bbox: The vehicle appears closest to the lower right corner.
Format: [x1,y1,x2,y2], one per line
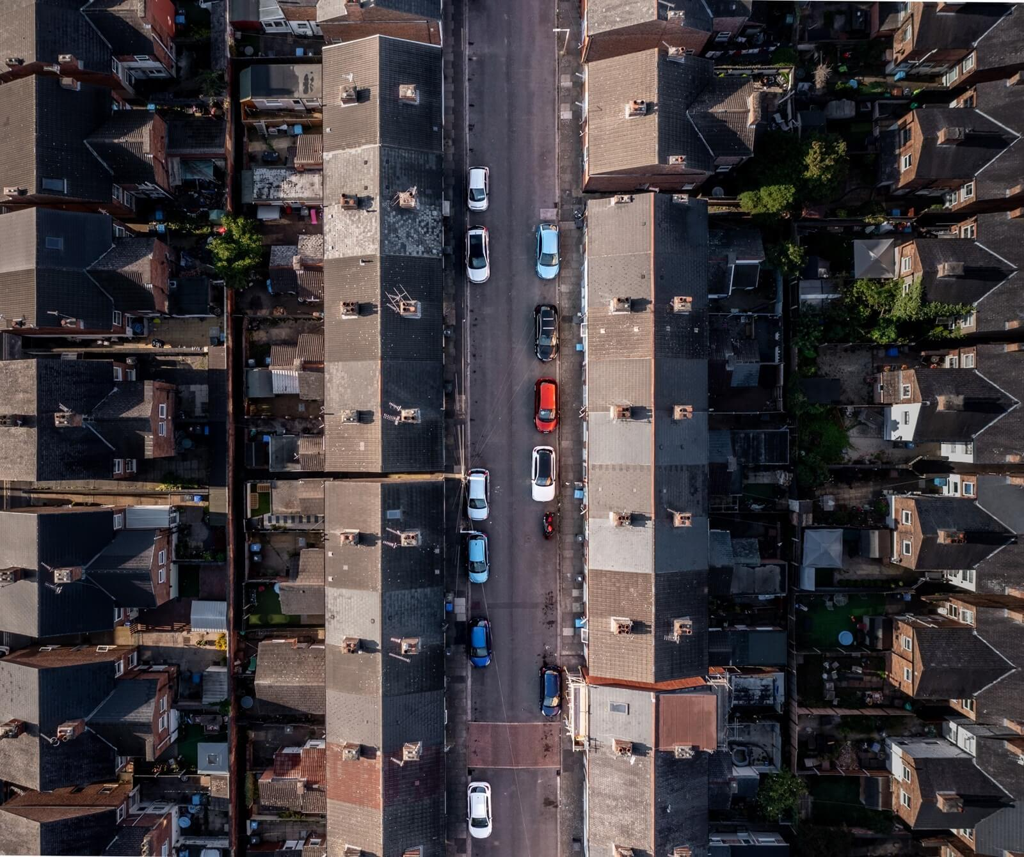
[536,666,561,717]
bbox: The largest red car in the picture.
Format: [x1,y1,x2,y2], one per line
[534,378,560,434]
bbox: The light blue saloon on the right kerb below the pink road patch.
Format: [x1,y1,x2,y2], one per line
[536,223,563,281]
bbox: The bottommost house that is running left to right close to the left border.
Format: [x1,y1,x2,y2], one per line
[0,784,173,857]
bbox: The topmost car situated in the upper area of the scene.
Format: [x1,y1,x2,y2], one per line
[468,166,492,211]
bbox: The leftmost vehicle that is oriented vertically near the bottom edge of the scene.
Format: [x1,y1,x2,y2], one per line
[463,782,489,838]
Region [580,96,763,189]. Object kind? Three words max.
house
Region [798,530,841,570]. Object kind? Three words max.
gazebo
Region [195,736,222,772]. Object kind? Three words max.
gazebo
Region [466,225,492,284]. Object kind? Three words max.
car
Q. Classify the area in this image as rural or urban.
urban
